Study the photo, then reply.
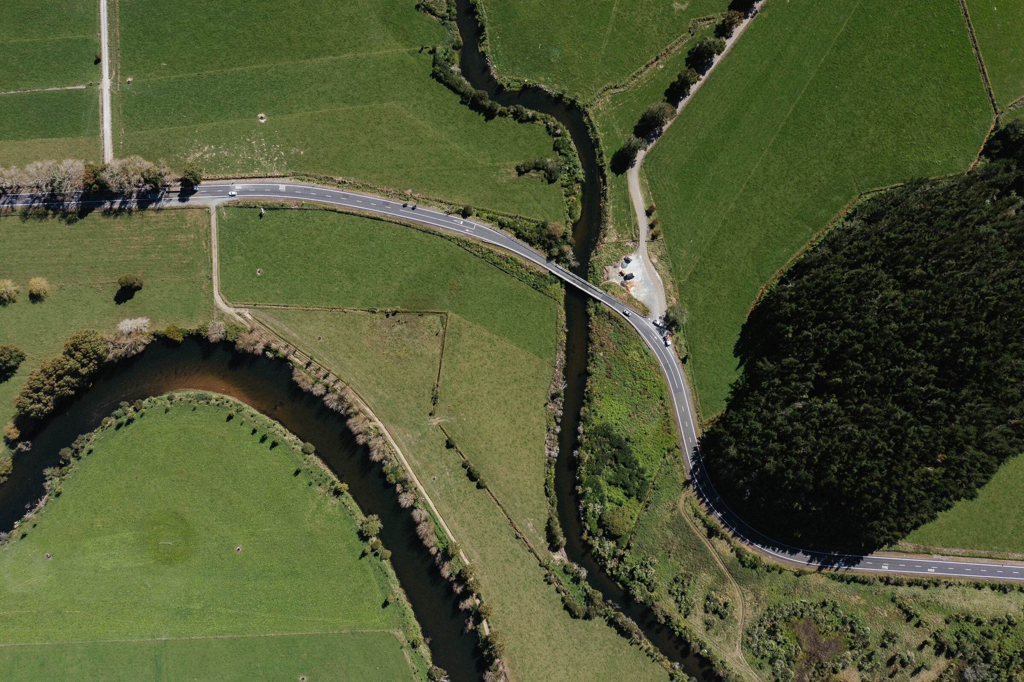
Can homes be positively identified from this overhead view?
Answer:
No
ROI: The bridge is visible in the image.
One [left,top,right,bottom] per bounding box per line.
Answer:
[552,263,606,301]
